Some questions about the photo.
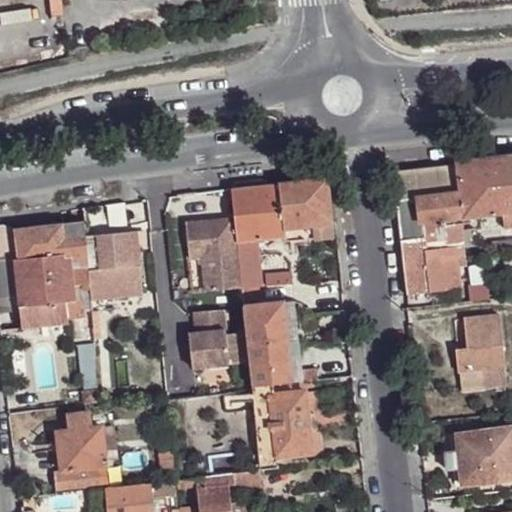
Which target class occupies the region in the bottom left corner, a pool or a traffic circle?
pool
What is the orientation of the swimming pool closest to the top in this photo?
up and down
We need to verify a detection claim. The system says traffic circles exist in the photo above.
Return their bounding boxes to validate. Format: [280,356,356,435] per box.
[320,74,362,116]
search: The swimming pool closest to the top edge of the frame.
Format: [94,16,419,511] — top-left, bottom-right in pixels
[32,340,58,392]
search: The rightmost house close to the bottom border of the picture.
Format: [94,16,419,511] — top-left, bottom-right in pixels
[454,424,512,492]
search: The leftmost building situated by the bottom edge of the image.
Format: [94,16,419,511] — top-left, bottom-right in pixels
[54,410,110,491]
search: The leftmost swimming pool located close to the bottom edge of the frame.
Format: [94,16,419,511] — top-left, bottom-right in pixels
[50,493,76,510]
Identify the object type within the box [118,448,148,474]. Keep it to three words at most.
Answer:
swimming pool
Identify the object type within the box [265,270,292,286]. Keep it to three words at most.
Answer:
shed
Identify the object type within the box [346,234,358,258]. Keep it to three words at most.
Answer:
vehicle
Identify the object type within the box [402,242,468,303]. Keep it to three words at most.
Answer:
house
